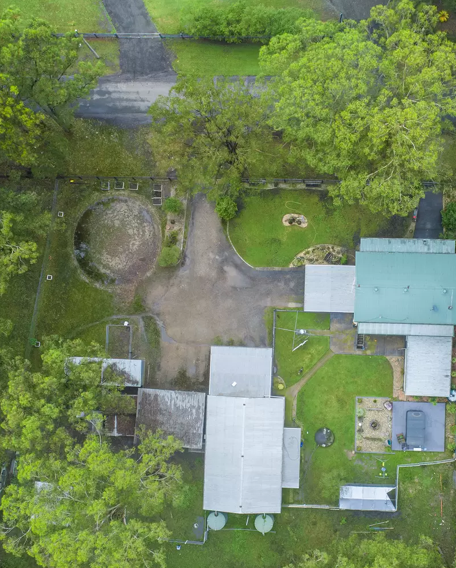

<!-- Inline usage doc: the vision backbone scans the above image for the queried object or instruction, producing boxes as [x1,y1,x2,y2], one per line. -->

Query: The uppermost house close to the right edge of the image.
[354,239,456,339]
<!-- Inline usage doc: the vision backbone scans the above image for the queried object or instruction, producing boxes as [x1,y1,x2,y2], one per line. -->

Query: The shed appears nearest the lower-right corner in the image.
[340,484,397,512]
